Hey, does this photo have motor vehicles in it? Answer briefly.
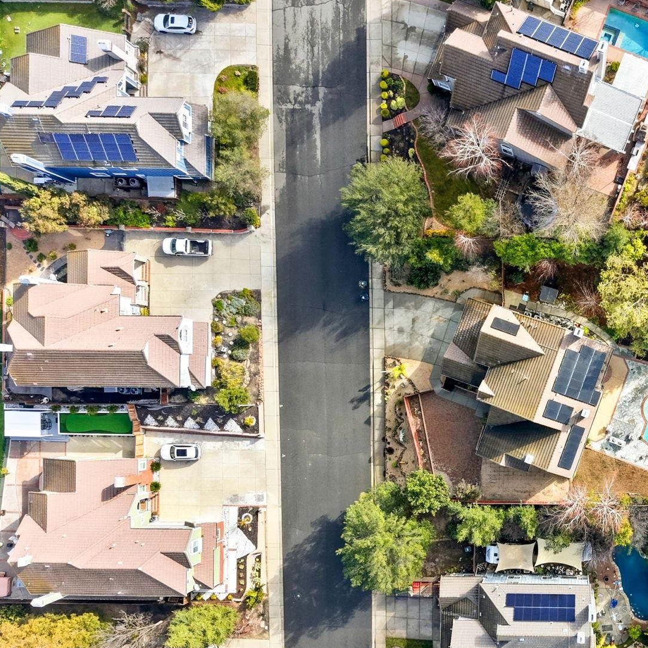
Yes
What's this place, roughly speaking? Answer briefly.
residential area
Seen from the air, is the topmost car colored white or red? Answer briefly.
white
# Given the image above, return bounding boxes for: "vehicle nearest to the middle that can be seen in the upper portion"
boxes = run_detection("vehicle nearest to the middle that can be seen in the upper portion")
[161,236,213,257]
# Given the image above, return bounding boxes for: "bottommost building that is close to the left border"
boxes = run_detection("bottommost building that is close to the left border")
[8,459,222,610]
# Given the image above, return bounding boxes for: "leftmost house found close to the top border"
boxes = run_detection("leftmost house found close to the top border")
[0,24,212,183]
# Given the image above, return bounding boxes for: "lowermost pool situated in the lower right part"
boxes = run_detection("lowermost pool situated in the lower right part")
[610,542,648,622]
